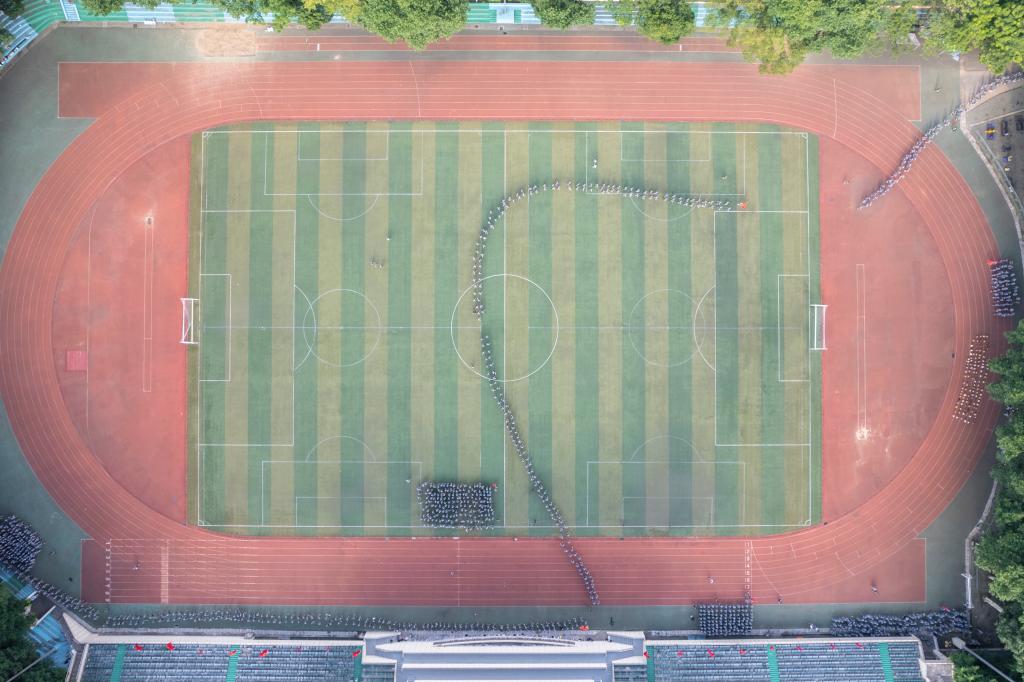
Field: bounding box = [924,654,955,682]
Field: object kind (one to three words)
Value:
building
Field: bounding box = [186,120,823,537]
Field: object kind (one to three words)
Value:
soccer field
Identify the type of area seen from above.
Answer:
sports ground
